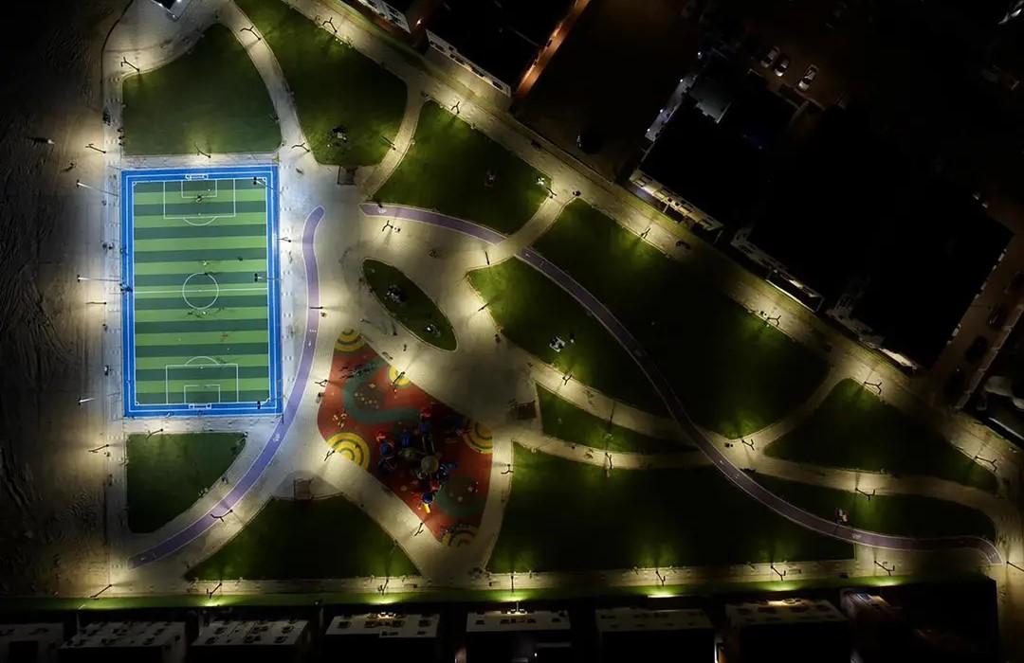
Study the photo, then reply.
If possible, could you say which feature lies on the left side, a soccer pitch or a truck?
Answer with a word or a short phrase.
soccer pitch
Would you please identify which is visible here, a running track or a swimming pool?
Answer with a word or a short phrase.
running track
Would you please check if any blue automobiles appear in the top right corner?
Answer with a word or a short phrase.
No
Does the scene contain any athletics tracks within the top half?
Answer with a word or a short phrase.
Yes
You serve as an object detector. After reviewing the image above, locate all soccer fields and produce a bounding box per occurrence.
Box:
[120,166,283,417]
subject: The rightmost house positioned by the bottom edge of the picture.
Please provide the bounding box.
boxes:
[899,604,994,663]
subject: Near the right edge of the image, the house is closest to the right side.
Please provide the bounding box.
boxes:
[970,375,1024,439]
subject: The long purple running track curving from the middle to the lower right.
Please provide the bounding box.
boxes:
[514,244,1003,567]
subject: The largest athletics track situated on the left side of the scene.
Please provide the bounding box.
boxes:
[127,203,328,571]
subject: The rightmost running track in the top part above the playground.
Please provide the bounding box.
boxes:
[362,203,506,247]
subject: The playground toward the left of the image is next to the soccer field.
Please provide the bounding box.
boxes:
[318,333,493,546]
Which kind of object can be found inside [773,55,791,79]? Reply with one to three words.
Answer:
car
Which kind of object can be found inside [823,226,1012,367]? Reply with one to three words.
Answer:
house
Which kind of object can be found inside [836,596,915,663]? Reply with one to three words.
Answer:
house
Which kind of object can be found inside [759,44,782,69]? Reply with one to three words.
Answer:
car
